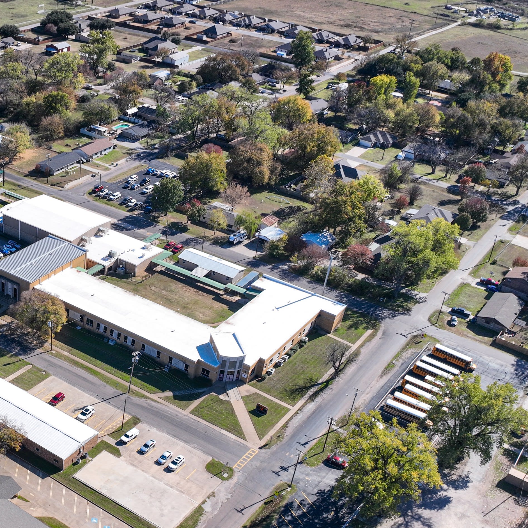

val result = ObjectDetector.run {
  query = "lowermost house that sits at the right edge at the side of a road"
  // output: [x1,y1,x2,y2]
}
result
[472,294,528,336]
